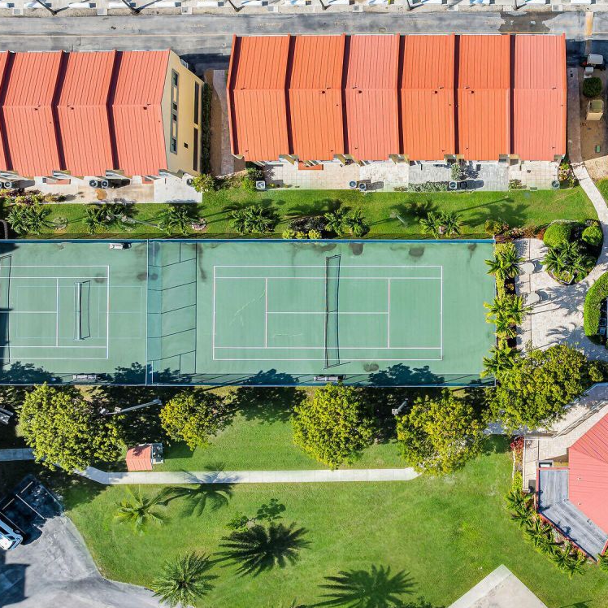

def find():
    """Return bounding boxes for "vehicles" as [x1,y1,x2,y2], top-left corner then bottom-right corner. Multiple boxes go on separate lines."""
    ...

[583,49,606,67]
[0,524,20,554]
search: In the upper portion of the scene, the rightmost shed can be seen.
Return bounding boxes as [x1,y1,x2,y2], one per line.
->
[585,96,605,119]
